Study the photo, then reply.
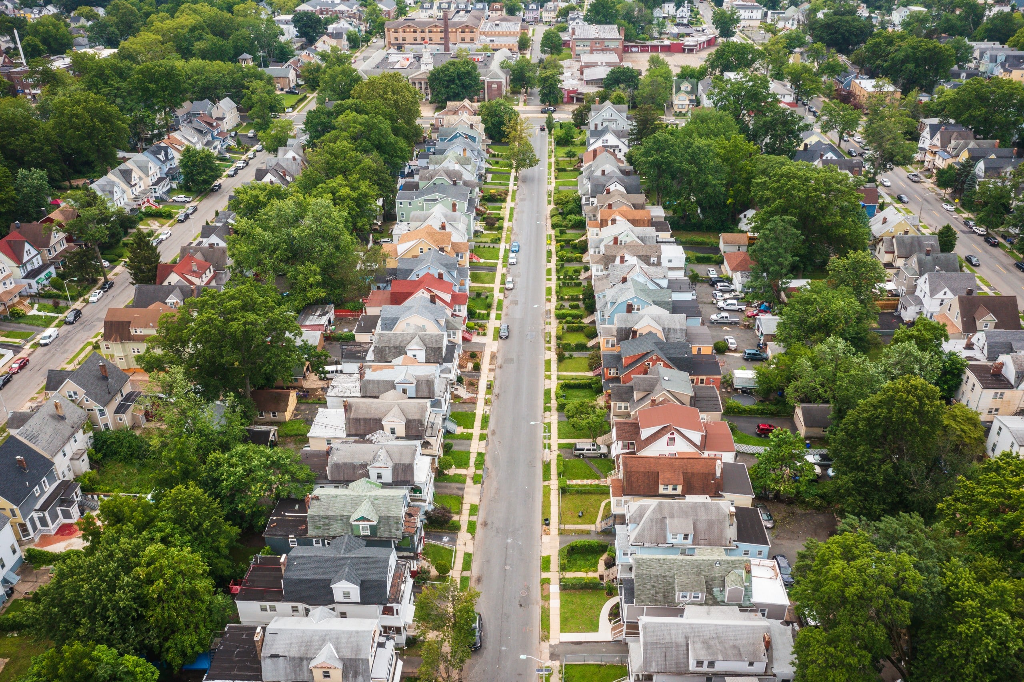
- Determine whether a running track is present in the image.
No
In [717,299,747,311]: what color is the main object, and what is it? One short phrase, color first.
white vehicle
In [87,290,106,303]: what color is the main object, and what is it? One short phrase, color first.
white vehicle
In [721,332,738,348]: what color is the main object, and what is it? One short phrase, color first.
white car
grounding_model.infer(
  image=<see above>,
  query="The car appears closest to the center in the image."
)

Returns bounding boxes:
[498,324,510,339]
